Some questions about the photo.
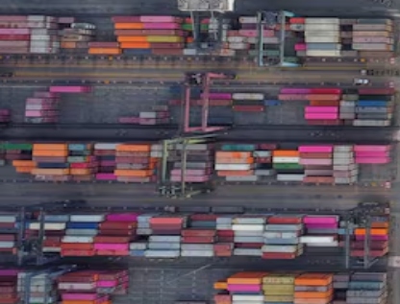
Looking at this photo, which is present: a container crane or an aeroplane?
container crane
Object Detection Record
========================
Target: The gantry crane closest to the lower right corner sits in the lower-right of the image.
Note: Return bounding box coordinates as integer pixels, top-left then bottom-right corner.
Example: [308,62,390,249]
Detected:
[344,197,390,269]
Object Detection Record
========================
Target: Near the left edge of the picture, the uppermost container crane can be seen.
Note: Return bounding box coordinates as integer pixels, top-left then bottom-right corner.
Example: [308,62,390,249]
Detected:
[17,196,82,267]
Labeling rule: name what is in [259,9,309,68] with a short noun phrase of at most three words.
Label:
container crane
